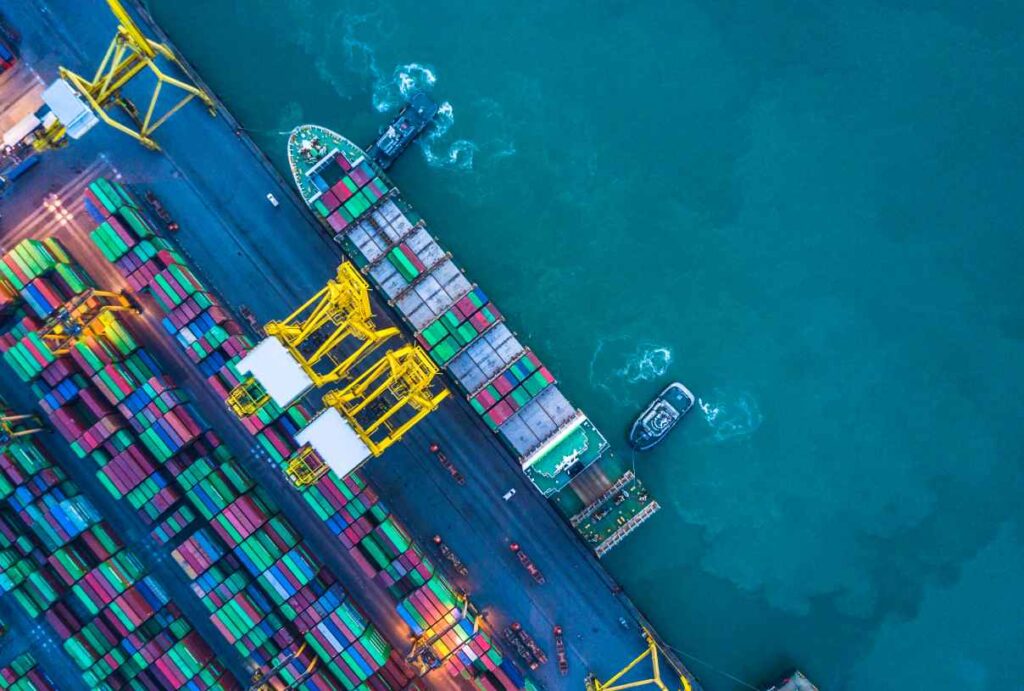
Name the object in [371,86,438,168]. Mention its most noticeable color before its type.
blue boat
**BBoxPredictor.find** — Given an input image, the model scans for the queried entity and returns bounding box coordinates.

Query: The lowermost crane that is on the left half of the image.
[245,639,320,691]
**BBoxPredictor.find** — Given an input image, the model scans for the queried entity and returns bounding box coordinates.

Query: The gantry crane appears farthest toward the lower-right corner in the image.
[582,627,689,691]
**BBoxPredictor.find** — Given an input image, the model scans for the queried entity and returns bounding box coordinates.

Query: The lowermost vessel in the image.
[764,664,820,691]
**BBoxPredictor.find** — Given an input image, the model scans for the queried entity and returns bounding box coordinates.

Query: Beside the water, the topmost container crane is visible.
[4,0,219,163]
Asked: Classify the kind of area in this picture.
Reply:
port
